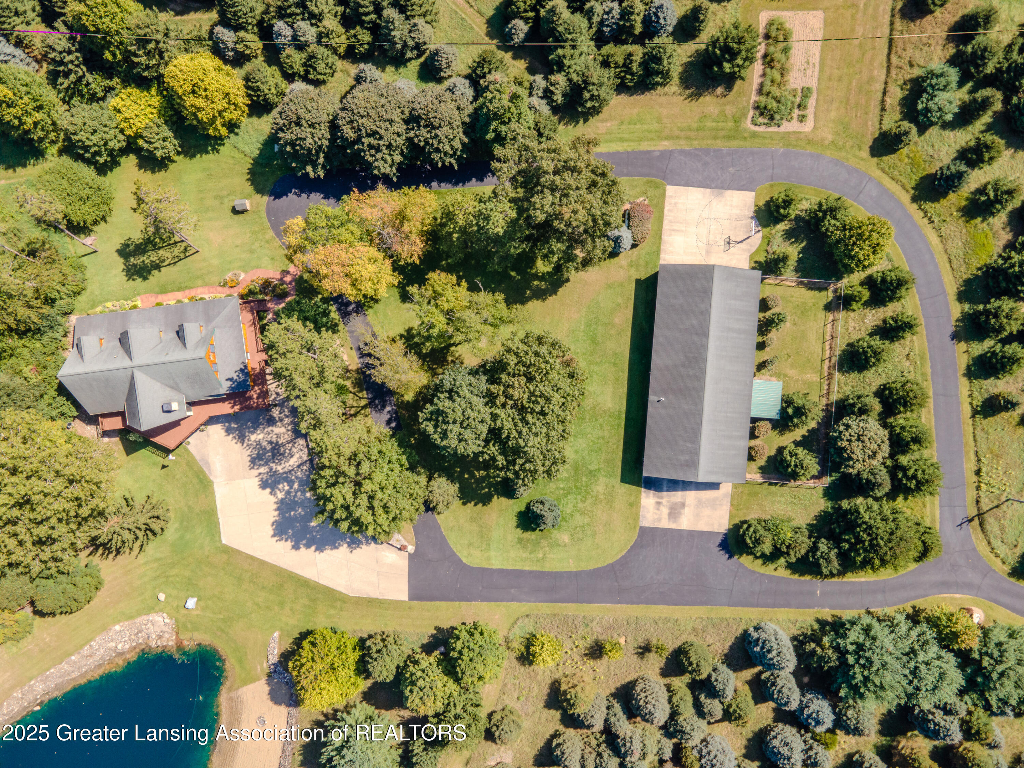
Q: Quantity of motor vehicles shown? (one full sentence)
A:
Not a single motor vehicle can be seen.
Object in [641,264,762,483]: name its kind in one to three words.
barn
